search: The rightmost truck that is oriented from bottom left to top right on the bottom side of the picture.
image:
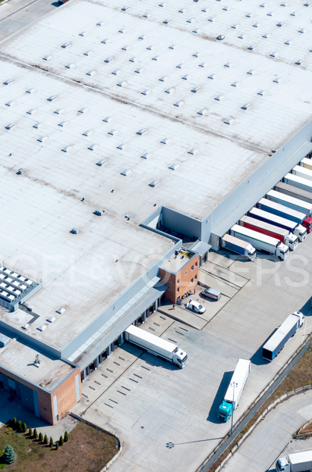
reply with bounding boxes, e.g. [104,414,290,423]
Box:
[261,311,304,363]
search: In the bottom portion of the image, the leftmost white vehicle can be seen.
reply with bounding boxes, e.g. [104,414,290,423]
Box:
[121,328,191,368]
